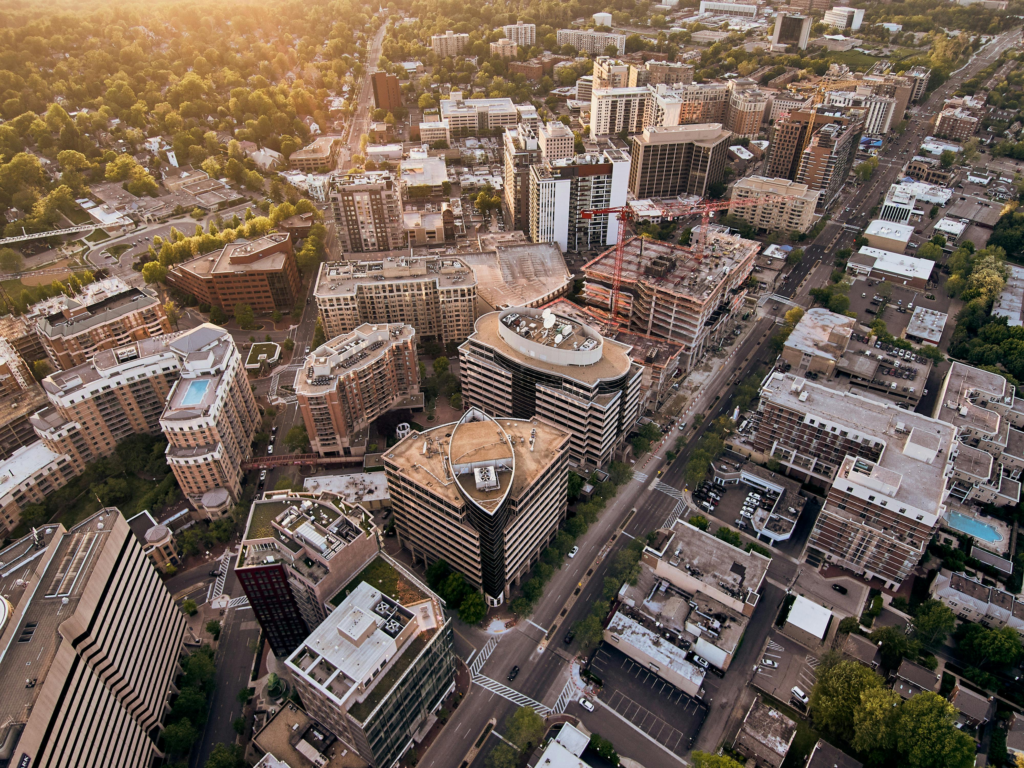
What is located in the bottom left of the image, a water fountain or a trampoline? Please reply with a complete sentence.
You can see a water fountain in the bottom left of the image.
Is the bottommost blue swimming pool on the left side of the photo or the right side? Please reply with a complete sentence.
The bottommost blue swimming pool sits on the right side.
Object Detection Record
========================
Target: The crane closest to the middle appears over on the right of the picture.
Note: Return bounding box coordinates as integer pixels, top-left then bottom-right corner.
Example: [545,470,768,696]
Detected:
[581,198,705,267]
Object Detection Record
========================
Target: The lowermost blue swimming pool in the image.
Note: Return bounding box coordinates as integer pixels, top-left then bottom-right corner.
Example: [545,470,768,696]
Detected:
[942,507,1005,545]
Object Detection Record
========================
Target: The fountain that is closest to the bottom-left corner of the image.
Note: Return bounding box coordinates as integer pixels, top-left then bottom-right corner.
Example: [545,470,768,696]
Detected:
[255,669,294,707]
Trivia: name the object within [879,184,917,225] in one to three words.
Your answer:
building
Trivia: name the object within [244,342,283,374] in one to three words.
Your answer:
building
